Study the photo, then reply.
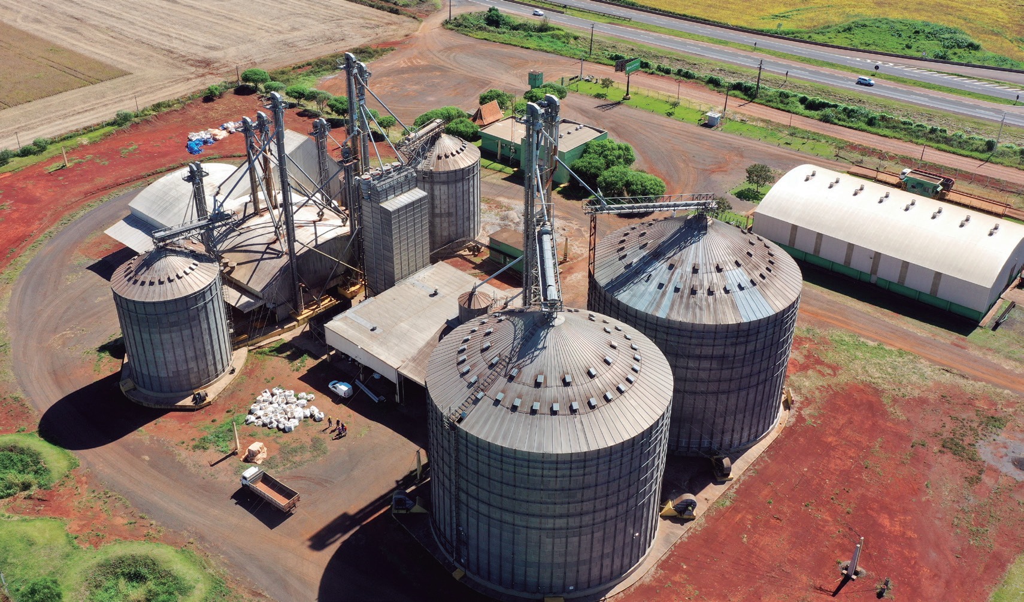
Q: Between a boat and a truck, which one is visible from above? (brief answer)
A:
truck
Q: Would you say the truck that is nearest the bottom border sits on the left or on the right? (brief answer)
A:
left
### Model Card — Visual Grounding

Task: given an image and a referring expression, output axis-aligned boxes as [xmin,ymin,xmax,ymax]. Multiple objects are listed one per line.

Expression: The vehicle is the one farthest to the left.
[236,464,300,516]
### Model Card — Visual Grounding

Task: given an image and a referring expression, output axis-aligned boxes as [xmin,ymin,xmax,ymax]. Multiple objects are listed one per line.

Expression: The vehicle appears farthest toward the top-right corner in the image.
[854,74,876,86]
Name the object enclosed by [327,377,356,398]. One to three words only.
vehicle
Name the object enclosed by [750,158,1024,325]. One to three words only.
warehouse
